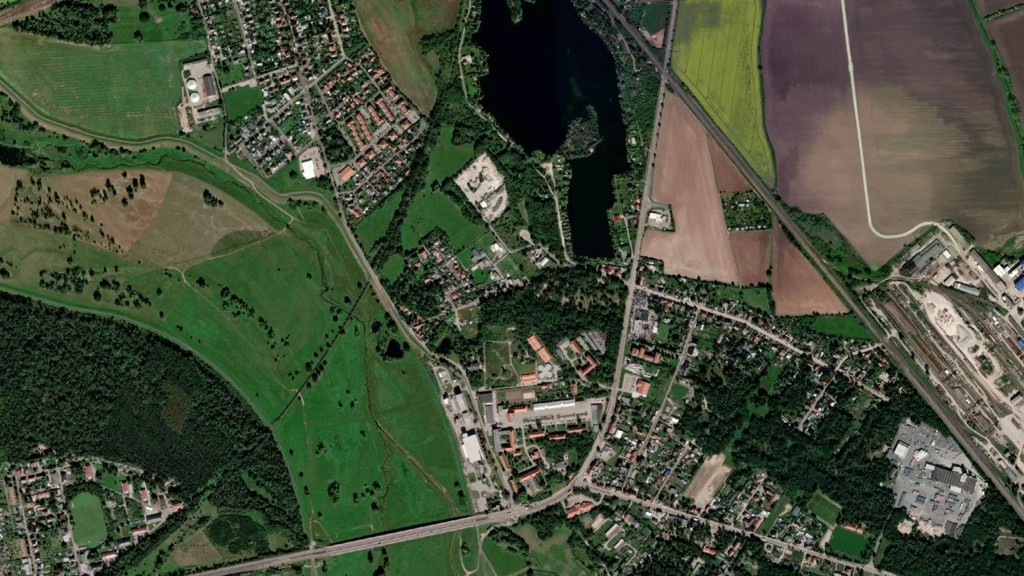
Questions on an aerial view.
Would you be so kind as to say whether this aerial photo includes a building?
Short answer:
Yes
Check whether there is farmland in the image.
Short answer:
Yes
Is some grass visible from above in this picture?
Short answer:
Yes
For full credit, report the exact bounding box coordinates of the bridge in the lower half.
[327,516,475,559]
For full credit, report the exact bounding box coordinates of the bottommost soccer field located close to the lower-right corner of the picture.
[830,527,869,557]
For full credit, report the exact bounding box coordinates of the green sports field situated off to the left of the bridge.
[71,492,107,548]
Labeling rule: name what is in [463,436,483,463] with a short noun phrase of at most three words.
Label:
building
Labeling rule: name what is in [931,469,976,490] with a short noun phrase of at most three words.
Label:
building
